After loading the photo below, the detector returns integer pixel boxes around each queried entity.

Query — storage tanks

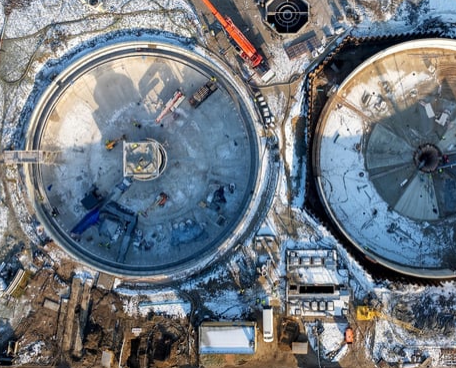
[311,39,456,280]
[26,41,265,279]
